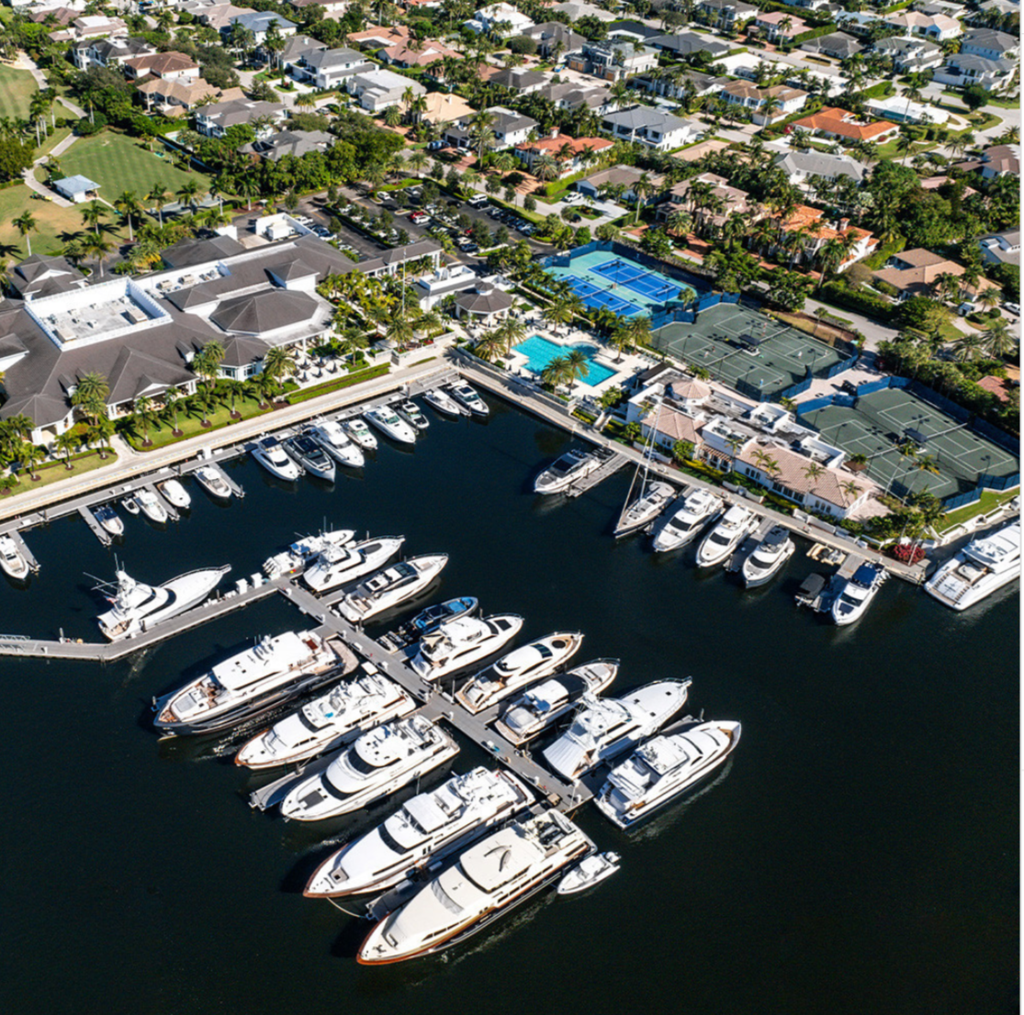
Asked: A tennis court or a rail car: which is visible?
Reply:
tennis court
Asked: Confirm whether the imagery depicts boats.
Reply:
Yes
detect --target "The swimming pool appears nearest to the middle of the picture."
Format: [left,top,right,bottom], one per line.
[516,335,616,385]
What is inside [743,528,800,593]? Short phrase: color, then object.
white boat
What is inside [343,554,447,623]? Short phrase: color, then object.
white boat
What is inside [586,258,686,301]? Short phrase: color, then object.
blue tennis court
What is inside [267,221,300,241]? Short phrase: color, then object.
white vehicle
